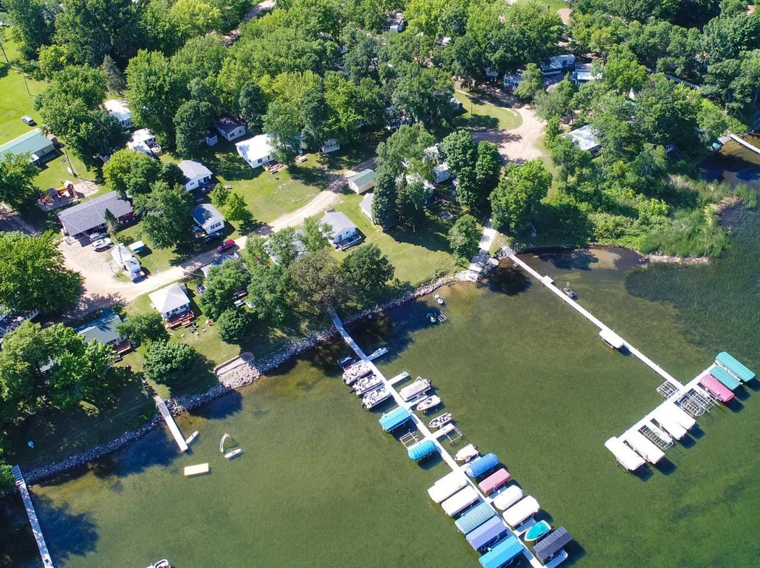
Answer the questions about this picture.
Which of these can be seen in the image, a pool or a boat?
boat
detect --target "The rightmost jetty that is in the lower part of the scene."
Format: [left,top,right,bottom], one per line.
[499,247,717,445]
